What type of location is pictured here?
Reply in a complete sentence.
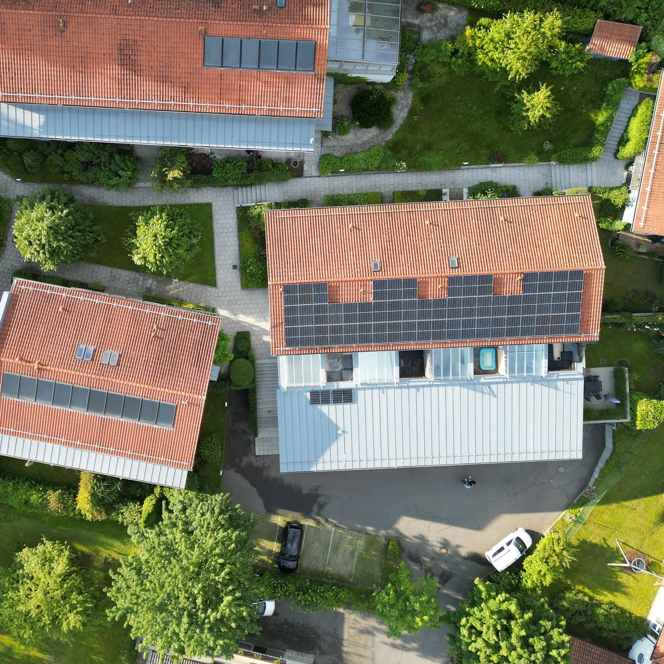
The picture captures a residential area.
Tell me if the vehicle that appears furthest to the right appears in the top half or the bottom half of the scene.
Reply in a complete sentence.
The vehicle that appears furthest to the right is in the bottom half of the image.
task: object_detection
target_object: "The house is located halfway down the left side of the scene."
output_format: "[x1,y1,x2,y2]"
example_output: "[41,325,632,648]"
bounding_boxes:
[0,276,222,490]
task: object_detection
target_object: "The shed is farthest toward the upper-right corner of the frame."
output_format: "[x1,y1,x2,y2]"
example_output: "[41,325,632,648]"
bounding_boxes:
[585,18,643,61]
